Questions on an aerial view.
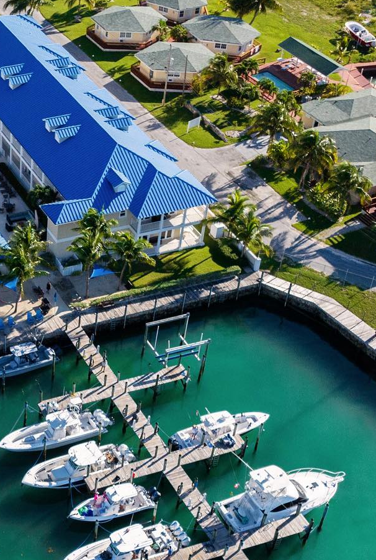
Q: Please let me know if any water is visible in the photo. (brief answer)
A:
Yes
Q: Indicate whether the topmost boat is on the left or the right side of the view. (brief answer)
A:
right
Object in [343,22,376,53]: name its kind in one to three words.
boat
